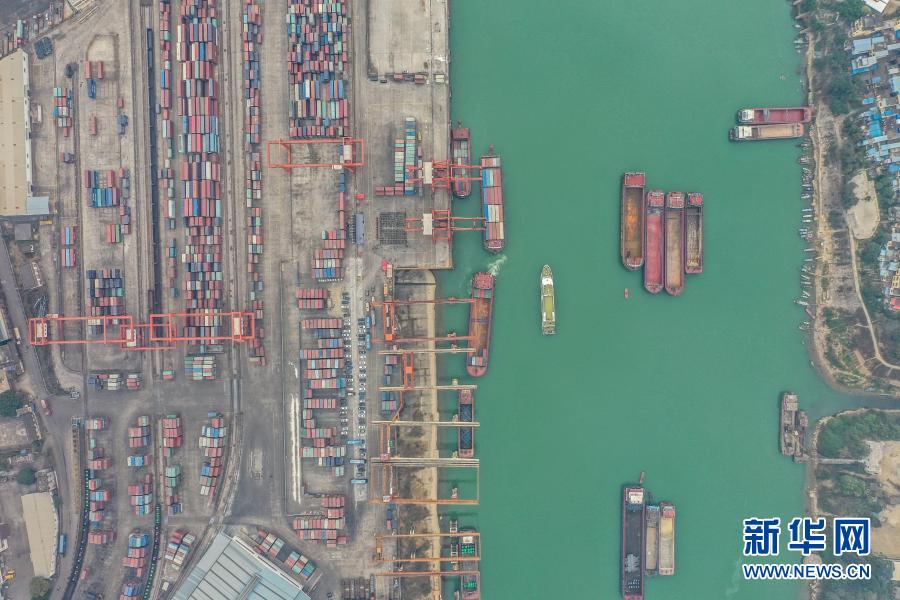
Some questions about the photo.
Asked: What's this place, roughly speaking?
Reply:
port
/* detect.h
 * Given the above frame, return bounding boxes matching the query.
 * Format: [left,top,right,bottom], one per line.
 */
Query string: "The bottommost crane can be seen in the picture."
[375,562,481,600]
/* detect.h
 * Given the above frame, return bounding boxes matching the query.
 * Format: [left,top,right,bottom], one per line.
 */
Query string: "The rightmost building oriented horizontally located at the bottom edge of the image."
[171,529,333,600]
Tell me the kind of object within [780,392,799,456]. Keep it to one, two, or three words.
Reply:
ship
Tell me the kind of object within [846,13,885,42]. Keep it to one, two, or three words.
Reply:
house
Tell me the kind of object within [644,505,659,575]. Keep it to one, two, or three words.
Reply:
ship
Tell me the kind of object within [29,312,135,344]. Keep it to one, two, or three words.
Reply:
container crane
